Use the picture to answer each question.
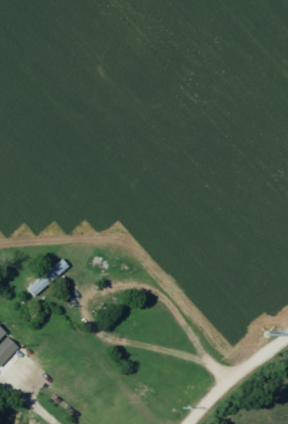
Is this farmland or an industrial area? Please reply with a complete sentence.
This image shows farmland.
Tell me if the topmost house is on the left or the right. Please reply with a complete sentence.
You can find the topmost house on the left side of the picture.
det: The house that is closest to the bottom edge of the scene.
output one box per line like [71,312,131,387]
[0,336,20,366]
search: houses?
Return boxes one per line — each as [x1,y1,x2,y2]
[0,336,20,366]
[27,258,70,297]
